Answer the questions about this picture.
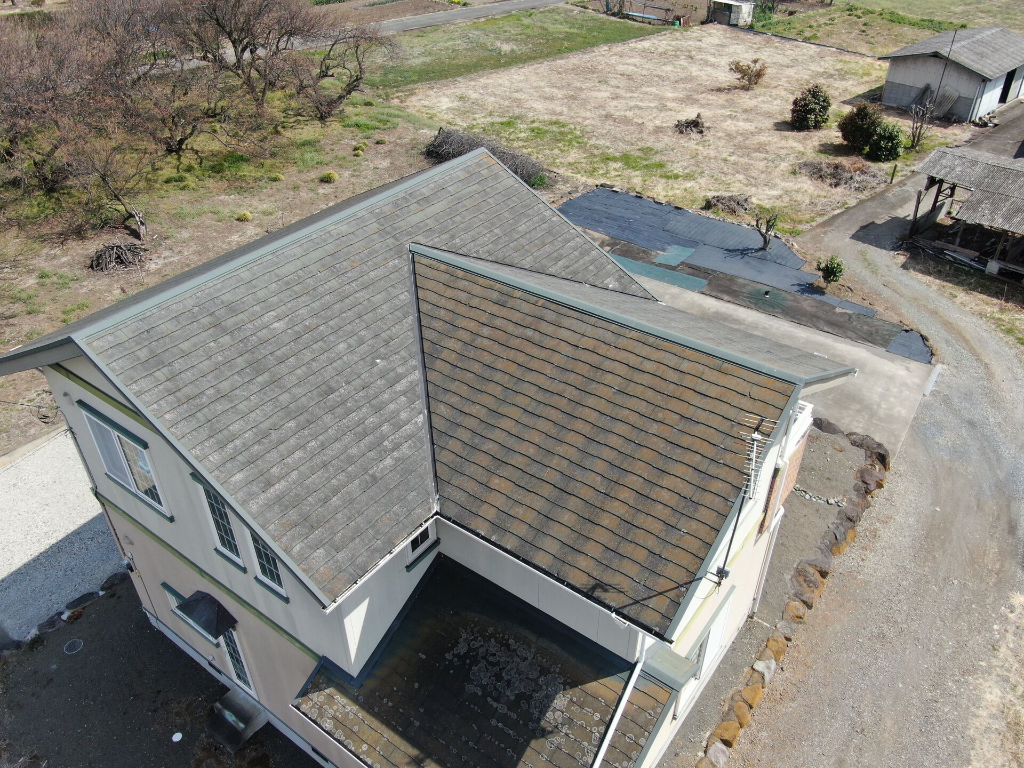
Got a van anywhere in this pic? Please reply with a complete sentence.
No, there's no van here.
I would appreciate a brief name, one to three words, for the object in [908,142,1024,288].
barn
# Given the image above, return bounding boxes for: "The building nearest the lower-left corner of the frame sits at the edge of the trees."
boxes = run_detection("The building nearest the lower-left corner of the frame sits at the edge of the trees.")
[0,148,862,768]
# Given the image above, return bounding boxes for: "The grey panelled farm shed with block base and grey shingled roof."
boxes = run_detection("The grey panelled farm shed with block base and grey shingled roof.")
[879,21,1024,124]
